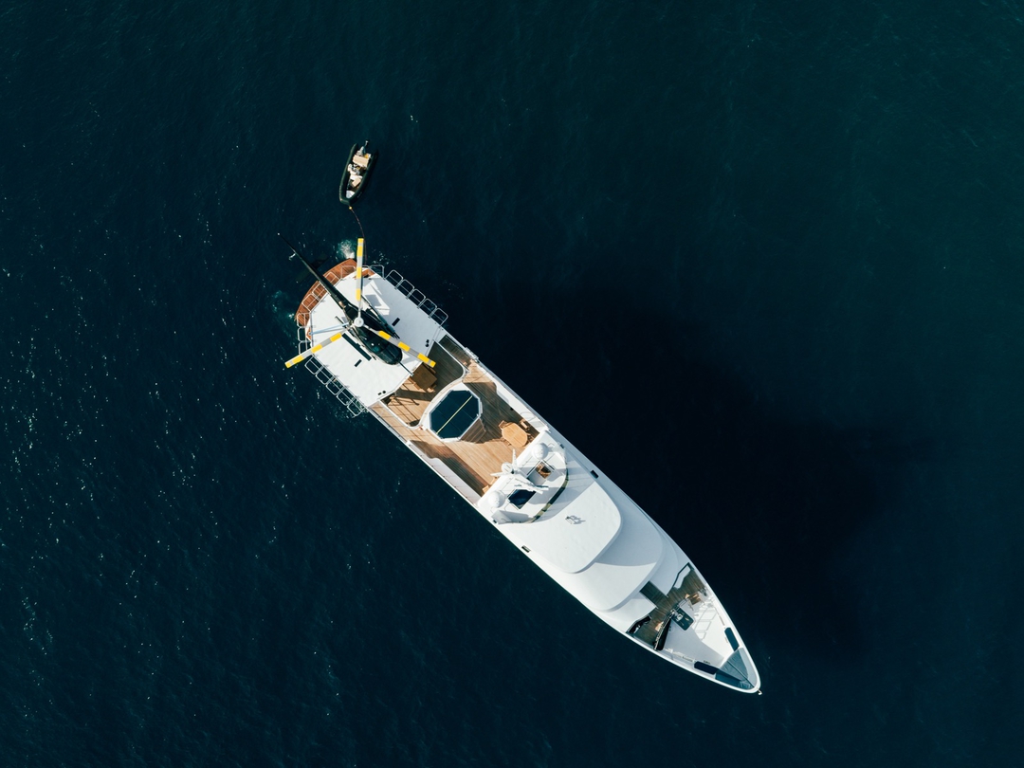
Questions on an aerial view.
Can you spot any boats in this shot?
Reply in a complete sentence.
Yes, there is a boat in the image.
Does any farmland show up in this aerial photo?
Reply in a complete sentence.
No, the scene doesn't show any farmland.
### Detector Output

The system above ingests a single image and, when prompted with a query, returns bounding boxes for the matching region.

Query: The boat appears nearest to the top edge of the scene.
[339,141,378,205]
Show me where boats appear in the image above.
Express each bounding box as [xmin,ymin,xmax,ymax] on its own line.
[294,257,762,693]
[339,141,378,205]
